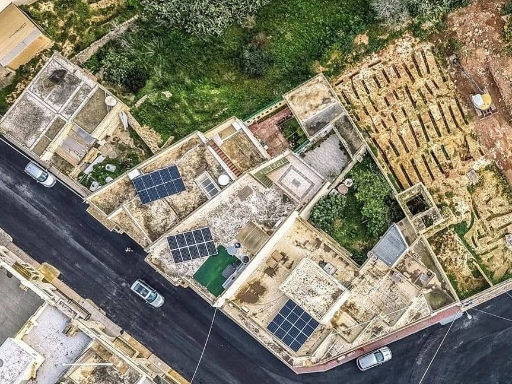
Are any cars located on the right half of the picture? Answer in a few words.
Yes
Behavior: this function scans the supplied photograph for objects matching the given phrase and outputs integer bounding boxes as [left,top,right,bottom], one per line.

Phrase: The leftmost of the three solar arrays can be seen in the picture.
[132,165,186,205]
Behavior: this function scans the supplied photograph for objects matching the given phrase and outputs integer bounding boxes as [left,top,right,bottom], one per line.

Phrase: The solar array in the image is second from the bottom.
[168,226,217,263]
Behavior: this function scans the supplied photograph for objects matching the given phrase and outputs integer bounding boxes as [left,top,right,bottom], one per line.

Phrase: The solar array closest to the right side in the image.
[267,299,319,352]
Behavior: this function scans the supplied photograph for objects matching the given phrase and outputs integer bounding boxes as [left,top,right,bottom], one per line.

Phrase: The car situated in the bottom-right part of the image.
[355,347,392,371]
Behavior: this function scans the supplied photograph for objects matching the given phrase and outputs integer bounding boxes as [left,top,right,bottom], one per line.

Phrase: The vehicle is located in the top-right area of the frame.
[447,53,498,125]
